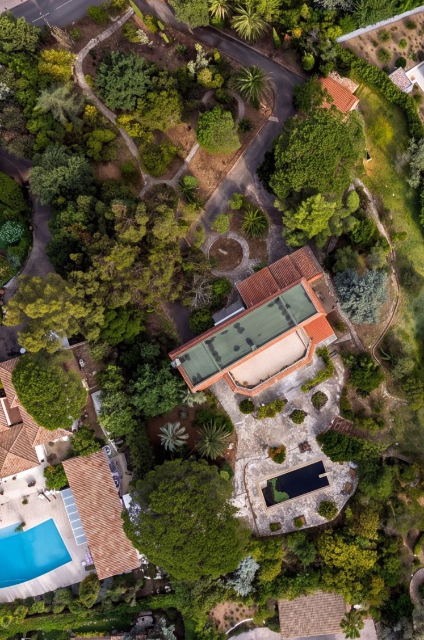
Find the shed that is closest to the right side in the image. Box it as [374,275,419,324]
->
[389,67,415,97]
